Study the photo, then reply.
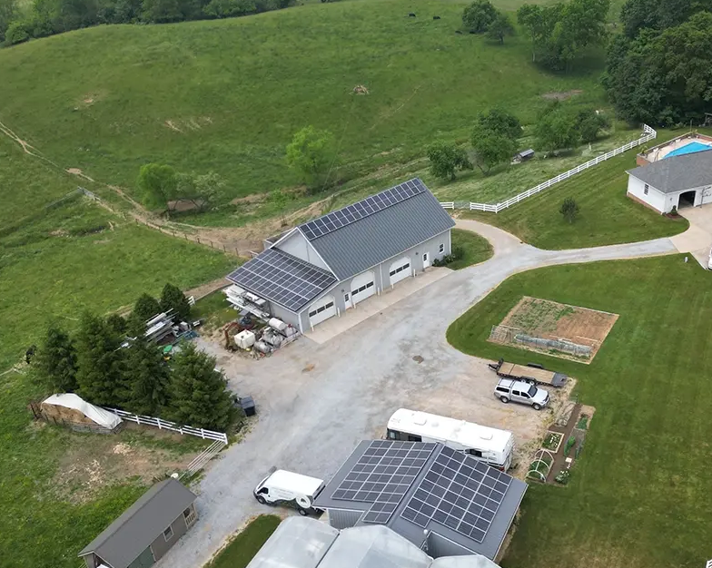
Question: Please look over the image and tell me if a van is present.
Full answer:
Yes, you can see a van in this photo.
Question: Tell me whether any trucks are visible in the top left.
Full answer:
No, I see no truck in the top left.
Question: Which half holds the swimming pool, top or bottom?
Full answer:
You can find the swimming pool in the top half.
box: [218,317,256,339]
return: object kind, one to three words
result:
work vehicle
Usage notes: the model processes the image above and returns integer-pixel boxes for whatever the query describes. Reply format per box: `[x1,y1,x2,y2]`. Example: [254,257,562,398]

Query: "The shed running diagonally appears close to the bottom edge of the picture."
[74,475,200,568]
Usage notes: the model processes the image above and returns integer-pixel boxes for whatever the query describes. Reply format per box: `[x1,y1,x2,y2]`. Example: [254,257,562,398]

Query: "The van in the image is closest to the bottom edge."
[252,467,328,514]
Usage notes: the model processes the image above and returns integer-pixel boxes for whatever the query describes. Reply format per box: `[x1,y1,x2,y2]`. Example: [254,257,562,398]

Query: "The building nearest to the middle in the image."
[223,174,460,332]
